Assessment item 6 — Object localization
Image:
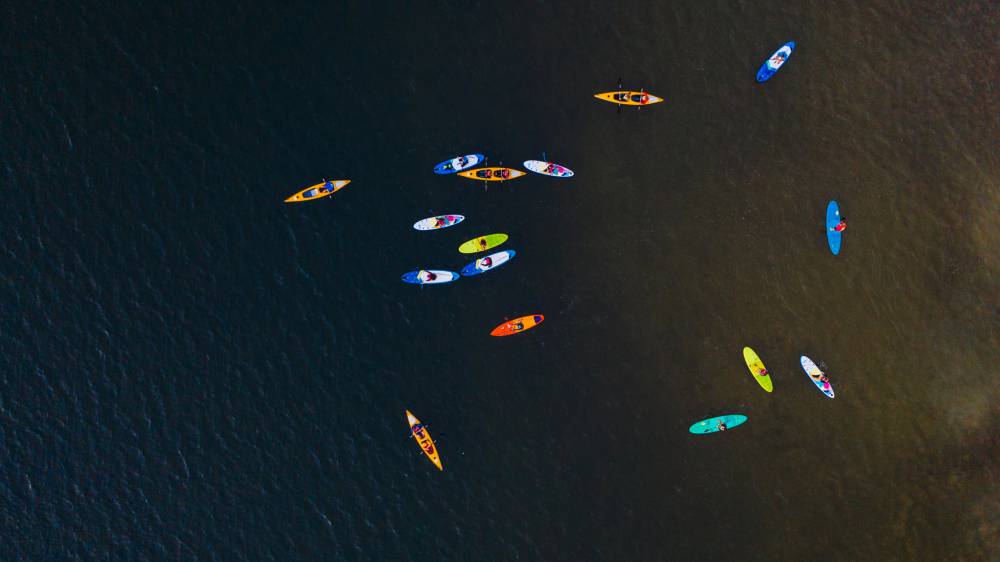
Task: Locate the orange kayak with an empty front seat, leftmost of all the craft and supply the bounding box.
[283,180,350,201]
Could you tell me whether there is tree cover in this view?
No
